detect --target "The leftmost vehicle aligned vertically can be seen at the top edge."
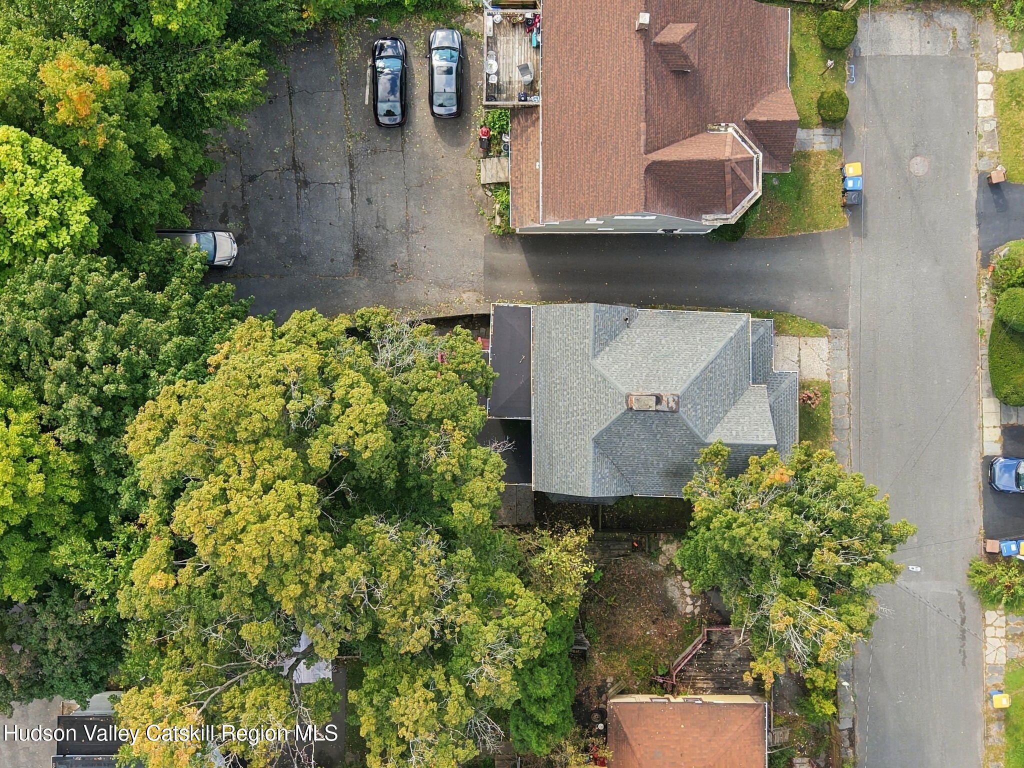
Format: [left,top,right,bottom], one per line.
[367,34,409,126]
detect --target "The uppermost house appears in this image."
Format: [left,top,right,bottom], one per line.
[509,0,800,236]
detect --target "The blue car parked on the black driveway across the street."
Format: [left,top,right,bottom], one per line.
[990,455,1024,499]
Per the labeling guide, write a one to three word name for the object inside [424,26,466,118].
car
